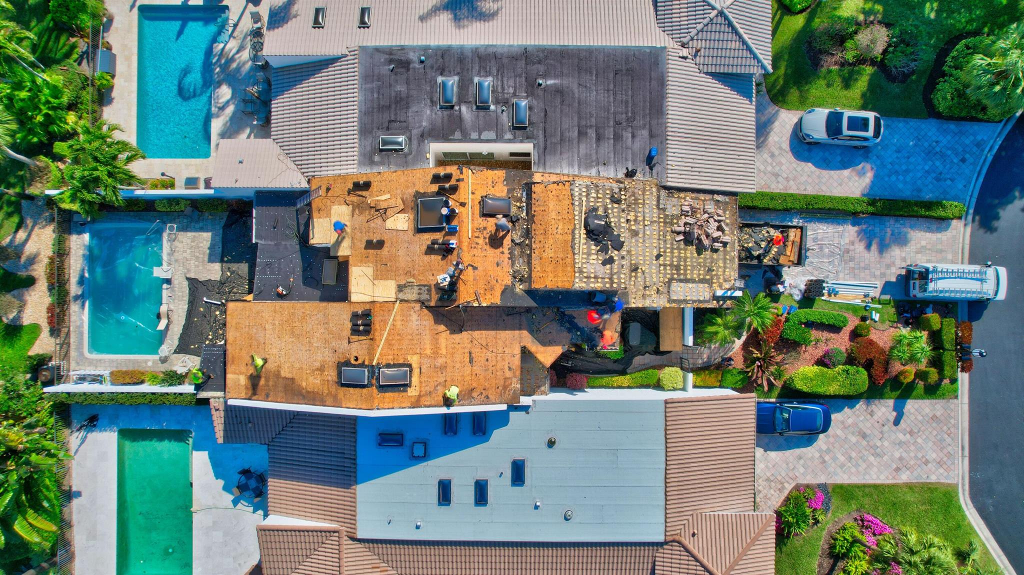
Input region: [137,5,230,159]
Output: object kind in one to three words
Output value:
swimming pool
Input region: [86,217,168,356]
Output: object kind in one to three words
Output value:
swimming pool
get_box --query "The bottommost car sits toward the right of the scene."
[757,399,832,439]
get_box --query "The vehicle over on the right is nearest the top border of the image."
[794,107,883,150]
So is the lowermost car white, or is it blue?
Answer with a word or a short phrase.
blue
